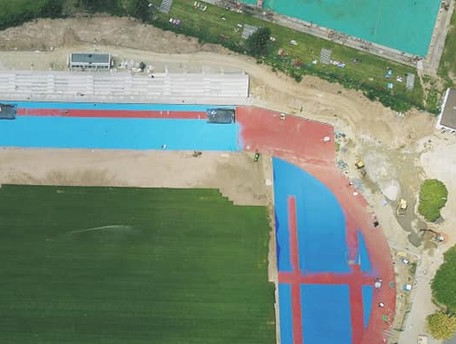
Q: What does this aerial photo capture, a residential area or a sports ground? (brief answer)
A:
sports ground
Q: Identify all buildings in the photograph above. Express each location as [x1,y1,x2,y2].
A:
[435,87,456,137]
[68,52,112,73]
